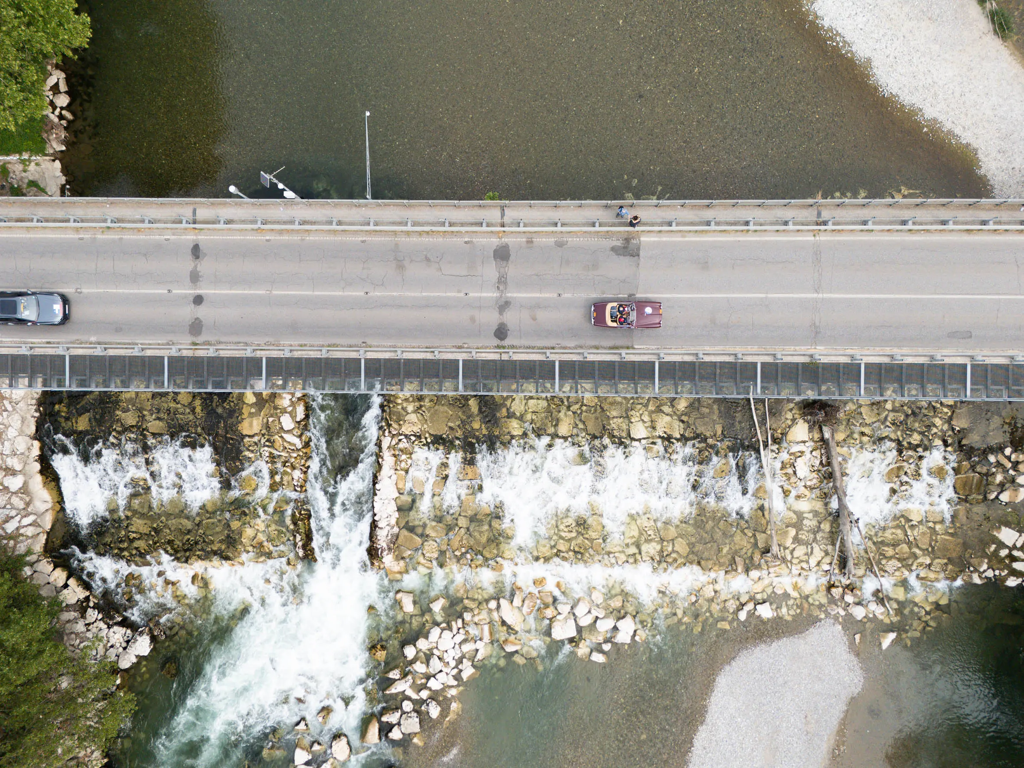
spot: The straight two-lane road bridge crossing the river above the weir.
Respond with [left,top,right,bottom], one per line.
[0,203,1024,361]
